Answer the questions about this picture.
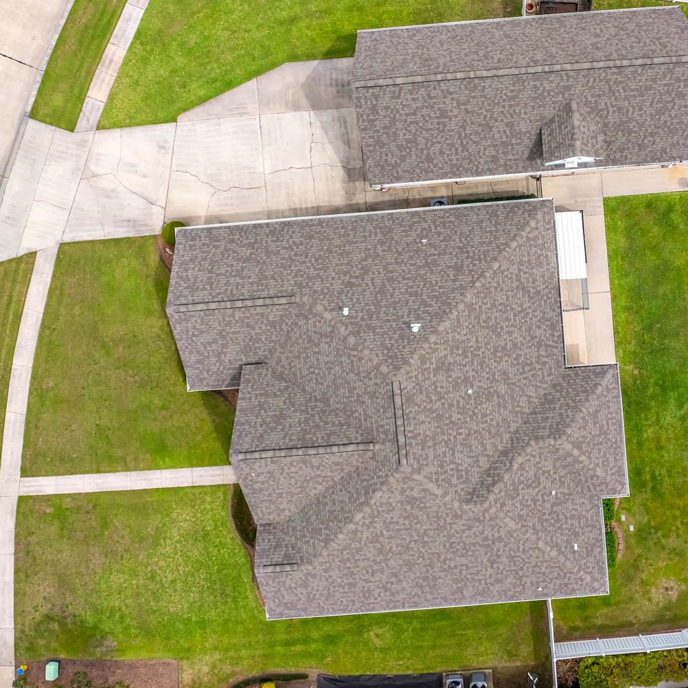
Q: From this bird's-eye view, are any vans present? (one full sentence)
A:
No, there is no van in the image.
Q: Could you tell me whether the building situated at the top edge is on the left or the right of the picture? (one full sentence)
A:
It is on the right.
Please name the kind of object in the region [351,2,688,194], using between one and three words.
building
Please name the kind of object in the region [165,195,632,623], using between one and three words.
house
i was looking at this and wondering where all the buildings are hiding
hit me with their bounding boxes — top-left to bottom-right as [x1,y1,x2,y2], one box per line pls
[351,2,688,194]
[165,195,632,623]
